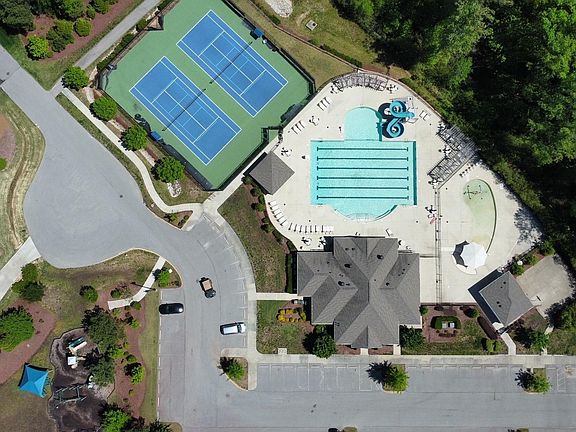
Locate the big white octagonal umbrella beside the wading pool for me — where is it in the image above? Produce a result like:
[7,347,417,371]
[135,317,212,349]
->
[460,241,487,267]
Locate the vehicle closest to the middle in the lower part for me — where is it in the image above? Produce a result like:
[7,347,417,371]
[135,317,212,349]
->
[199,277,216,300]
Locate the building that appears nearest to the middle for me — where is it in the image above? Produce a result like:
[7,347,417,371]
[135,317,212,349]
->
[249,151,295,195]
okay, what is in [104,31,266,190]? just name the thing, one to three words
tennis court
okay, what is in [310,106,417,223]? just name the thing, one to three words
swimming pool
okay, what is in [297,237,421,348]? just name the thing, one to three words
building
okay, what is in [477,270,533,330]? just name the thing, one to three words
building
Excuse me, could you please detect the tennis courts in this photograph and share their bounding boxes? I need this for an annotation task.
[104,31,266,190]
[151,0,314,141]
